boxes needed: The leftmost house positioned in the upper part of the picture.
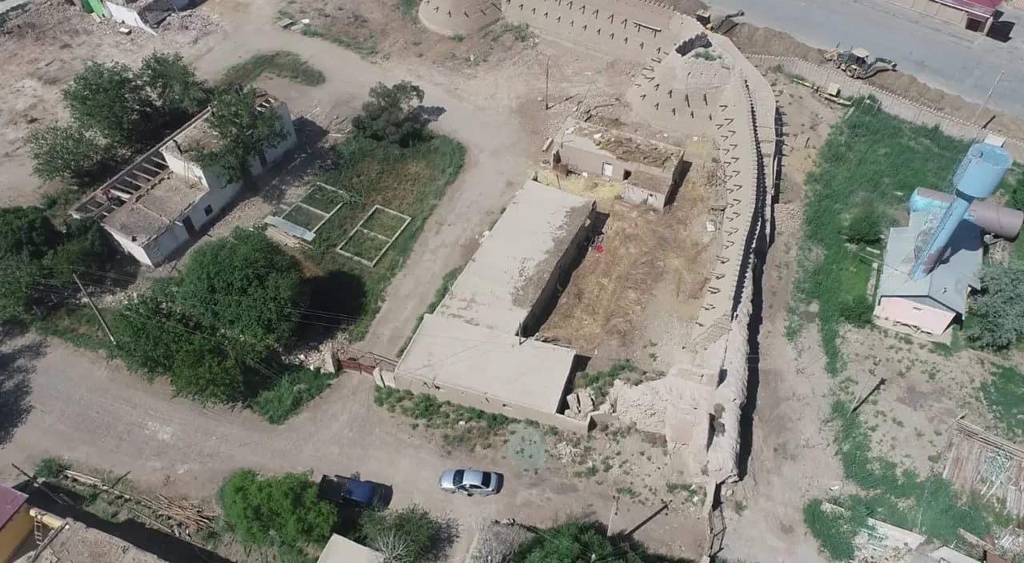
[68,89,295,268]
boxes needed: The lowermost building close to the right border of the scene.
[874,215,983,344]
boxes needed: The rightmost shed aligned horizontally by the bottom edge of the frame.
[319,533,392,563]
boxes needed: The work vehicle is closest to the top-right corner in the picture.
[818,44,897,71]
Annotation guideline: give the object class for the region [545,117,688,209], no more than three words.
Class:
house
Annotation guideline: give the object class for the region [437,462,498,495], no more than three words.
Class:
car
